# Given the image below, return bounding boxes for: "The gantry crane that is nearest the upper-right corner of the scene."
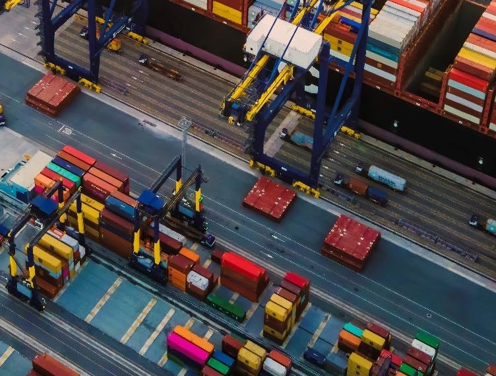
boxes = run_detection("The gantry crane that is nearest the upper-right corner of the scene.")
[224,0,372,196]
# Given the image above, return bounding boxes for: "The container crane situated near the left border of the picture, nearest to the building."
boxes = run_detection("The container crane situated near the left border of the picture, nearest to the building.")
[2,181,89,310]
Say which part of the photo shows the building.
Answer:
left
